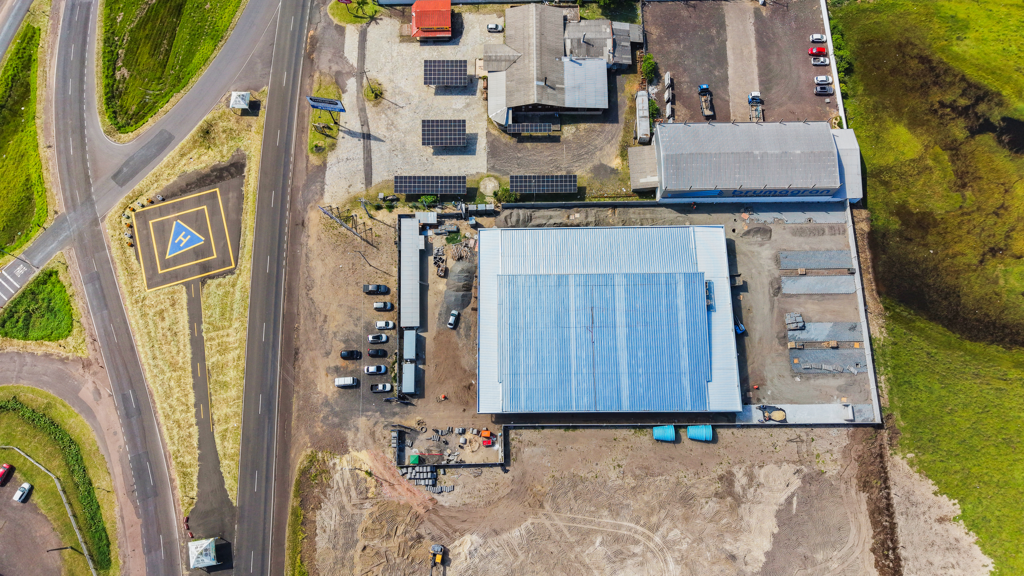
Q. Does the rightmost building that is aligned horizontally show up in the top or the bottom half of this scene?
top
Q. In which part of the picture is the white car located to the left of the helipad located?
bottom left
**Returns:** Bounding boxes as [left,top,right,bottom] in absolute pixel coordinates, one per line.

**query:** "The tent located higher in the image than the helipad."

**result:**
[229,91,254,114]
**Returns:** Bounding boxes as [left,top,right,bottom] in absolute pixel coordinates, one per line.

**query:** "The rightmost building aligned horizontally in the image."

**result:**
[651,118,842,200]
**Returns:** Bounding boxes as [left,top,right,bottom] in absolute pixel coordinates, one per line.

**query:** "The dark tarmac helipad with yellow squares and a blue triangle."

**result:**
[132,175,245,576]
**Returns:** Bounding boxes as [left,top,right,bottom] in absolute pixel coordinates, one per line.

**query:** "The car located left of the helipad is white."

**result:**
[12,482,33,503]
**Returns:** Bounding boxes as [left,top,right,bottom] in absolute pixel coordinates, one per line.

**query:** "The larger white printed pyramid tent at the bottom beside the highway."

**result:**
[188,537,222,569]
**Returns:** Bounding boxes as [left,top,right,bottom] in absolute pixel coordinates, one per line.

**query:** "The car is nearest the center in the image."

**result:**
[446,310,459,330]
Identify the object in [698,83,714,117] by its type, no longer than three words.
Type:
vehicle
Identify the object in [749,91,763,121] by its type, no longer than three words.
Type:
vehicle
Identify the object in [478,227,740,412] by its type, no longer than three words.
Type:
building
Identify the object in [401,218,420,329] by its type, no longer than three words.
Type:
shed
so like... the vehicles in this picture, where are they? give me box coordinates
[364,364,387,374]
[486,24,503,33]
[749,91,763,121]
[339,349,362,359]
[809,34,826,43]
[0,464,14,486]
[810,57,829,66]
[698,83,714,117]
[813,76,832,85]
[807,47,827,56]
[428,539,446,576]
[446,310,459,330]
[366,333,388,343]
[12,482,33,503]
[369,382,392,392]
[363,284,388,294]
[373,301,393,311]
[333,377,358,387]
[375,320,395,329]
[367,348,387,358]
[812,86,834,96]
